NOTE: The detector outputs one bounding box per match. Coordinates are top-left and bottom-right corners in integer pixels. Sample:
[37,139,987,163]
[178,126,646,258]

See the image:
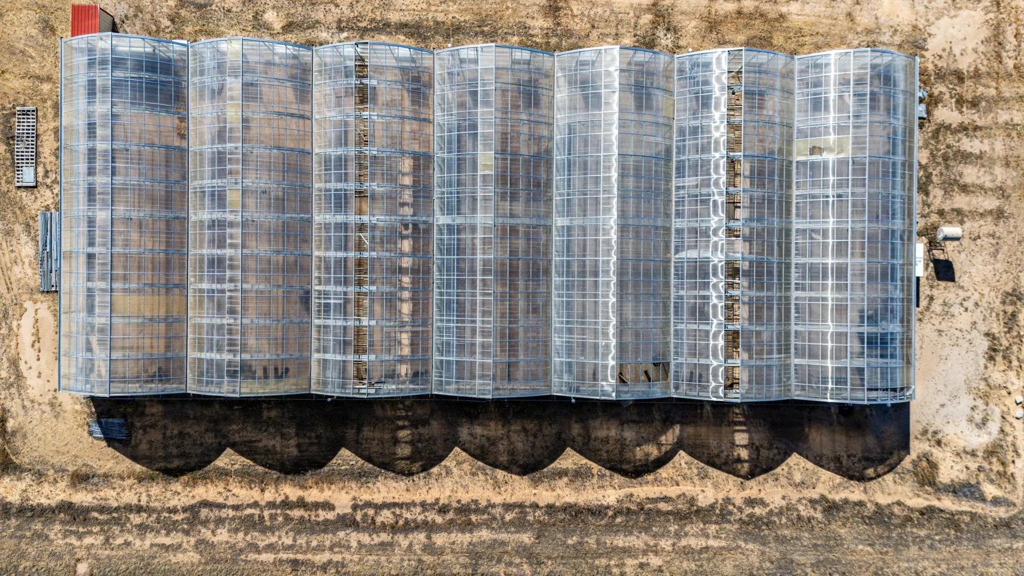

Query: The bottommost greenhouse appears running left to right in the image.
[56,29,921,406]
